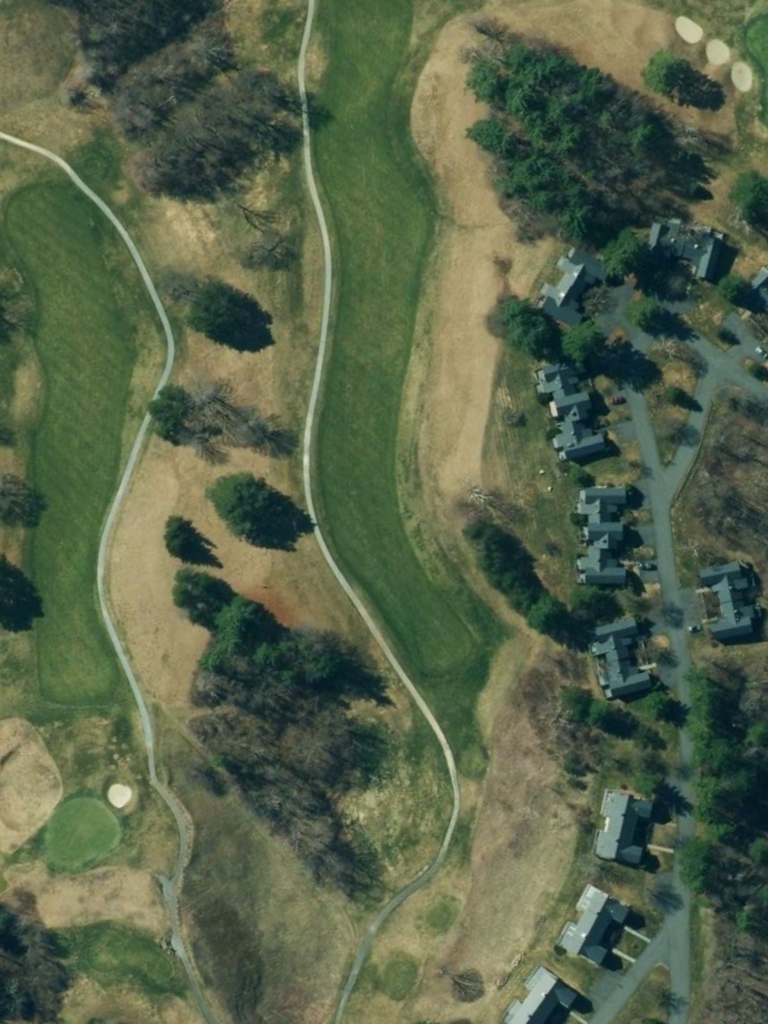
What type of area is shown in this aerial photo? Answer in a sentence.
The picture captures a golf course.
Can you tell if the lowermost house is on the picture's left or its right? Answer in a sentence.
The lowermost house sits on the right side.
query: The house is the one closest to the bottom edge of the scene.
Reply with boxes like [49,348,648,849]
[502,966,577,1024]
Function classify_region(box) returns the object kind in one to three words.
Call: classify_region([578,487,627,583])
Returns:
house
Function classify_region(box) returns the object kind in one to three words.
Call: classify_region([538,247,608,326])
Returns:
house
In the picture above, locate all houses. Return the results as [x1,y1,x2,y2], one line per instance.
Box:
[538,247,608,326]
[592,788,653,864]
[538,357,607,460]
[589,618,653,699]
[557,885,630,966]
[502,966,577,1024]
[700,561,761,642]
[648,217,724,278]
[578,487,627,583]
[750,268,768,296]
